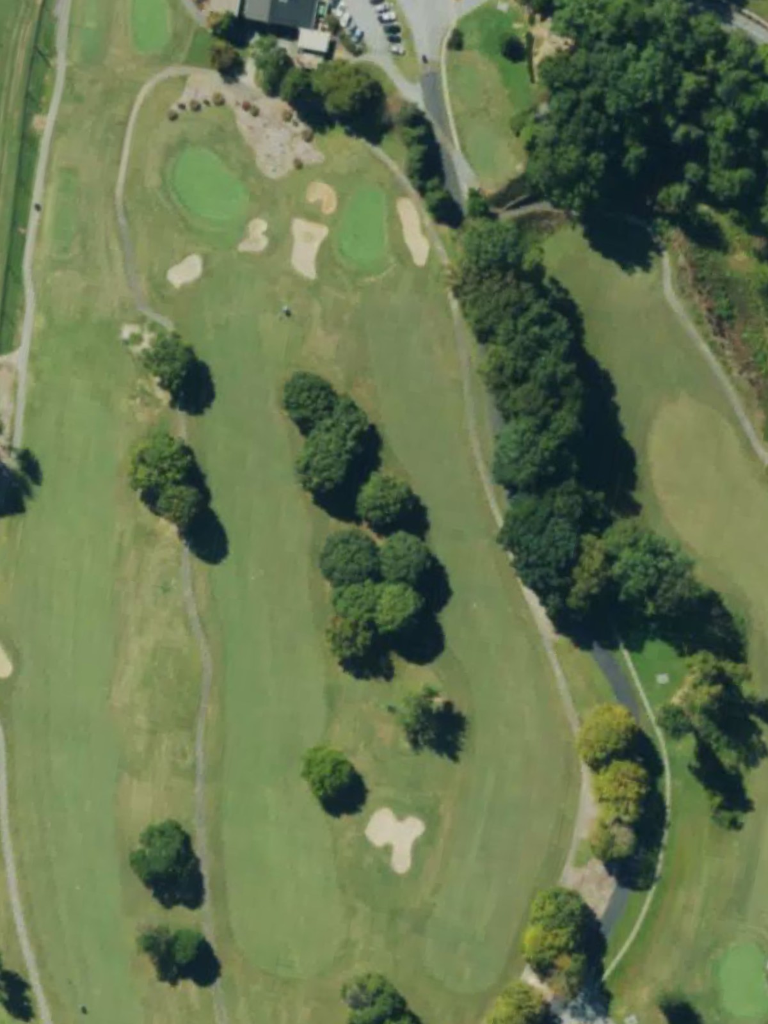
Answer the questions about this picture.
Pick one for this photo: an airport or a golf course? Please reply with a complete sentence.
What you see here is a golf course.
